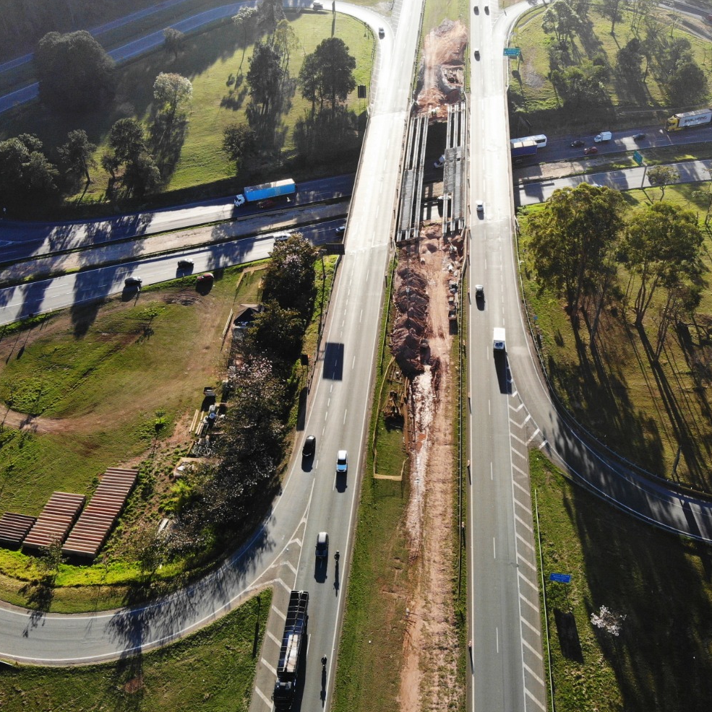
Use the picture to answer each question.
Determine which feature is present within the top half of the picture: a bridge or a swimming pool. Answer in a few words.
bridge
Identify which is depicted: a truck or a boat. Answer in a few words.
truck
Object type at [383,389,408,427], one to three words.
work vehicle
